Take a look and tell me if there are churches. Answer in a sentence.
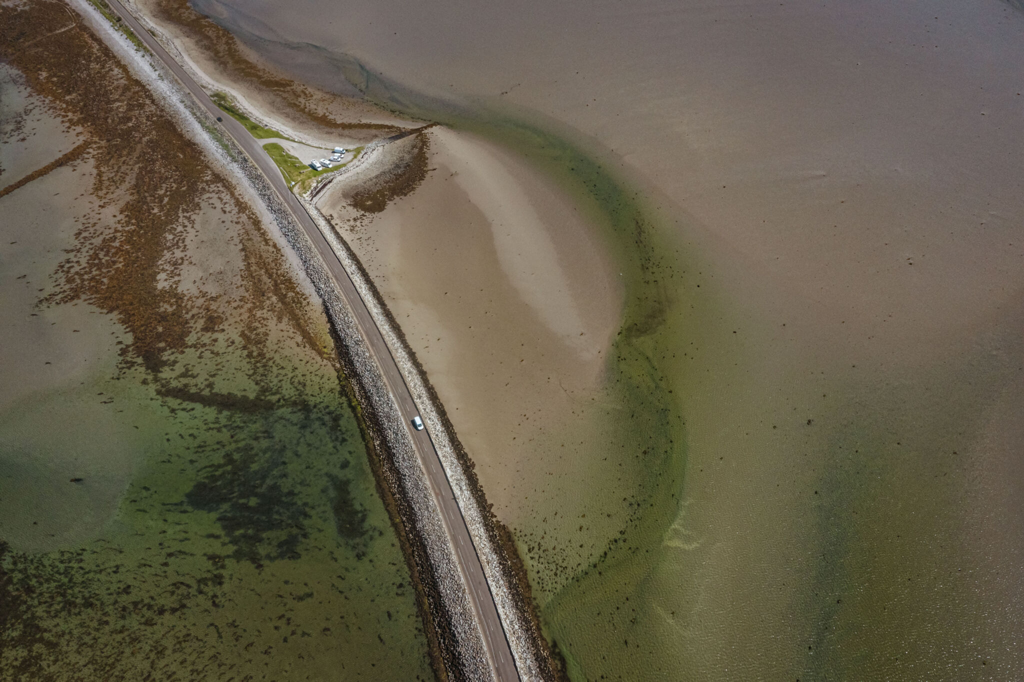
No, there isn't any church down there.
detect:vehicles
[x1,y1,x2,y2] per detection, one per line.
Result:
[319,159,332,168]
[311,159,321,170]
[330,156,340,161]
[335,153,344,158]
[334,147,345,154]
[414,416,423,430]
